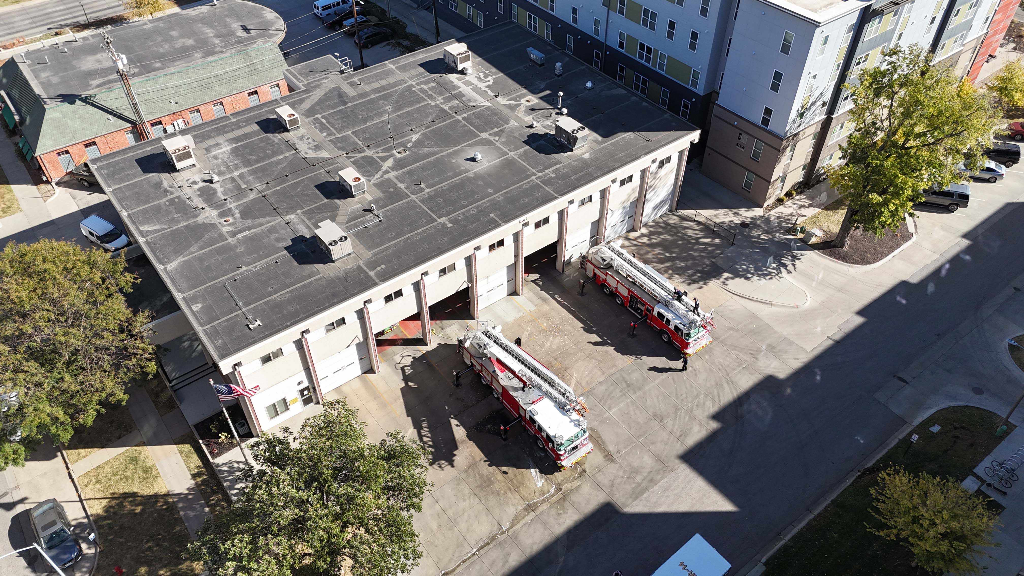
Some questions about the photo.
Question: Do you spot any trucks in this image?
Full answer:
Yes, there's a truck here.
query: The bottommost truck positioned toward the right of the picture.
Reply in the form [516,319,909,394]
[648,534,731,576]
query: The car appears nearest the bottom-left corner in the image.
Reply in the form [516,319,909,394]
[29,500,89,574]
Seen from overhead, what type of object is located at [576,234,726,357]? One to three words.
truck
